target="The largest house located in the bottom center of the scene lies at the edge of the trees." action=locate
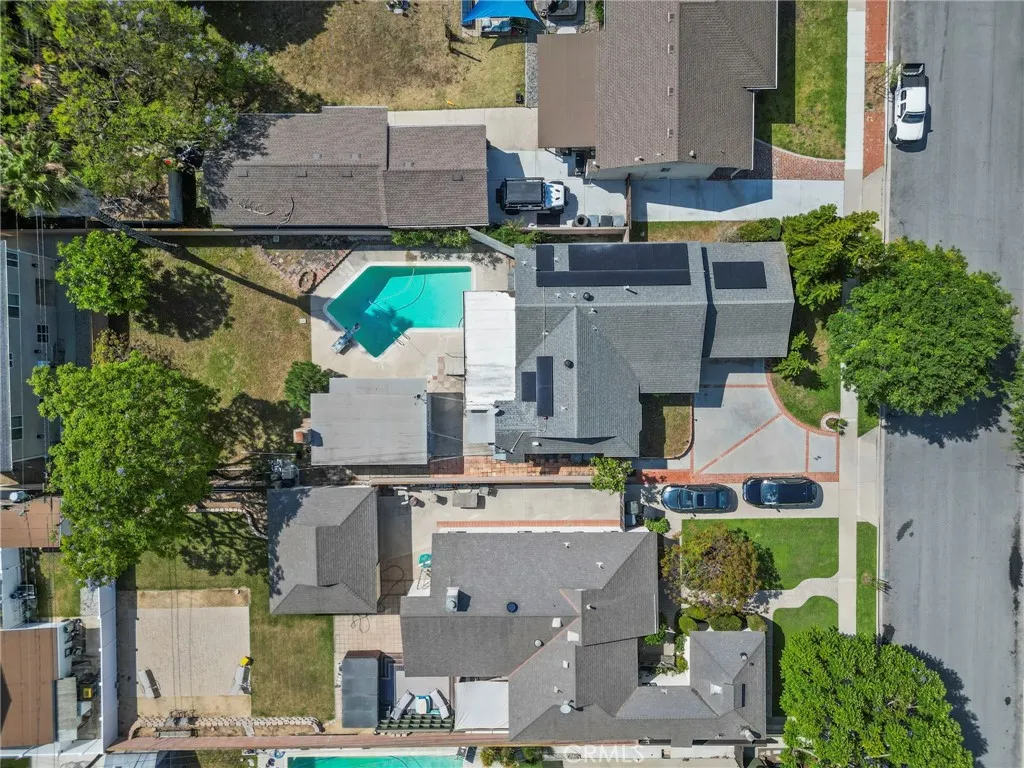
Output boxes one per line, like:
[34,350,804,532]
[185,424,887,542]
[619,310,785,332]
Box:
[400,530,767,743]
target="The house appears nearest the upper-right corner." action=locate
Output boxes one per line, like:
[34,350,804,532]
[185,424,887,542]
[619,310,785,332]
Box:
[594,0,779,179]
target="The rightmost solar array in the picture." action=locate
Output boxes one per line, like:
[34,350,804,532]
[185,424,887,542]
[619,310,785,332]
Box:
[713,261,767,288]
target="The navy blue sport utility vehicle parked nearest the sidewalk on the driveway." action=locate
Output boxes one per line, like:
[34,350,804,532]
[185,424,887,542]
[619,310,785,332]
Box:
[743,480,820,514]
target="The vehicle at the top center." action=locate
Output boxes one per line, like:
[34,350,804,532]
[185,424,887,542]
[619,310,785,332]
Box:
[497,176,563,211]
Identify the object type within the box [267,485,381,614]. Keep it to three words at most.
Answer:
building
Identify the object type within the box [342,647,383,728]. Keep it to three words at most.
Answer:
shed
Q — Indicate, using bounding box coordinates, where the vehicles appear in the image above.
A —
[497,176,563,211]
[743,480,820,514]
[887,64,931,147]
[660,484,733,516]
